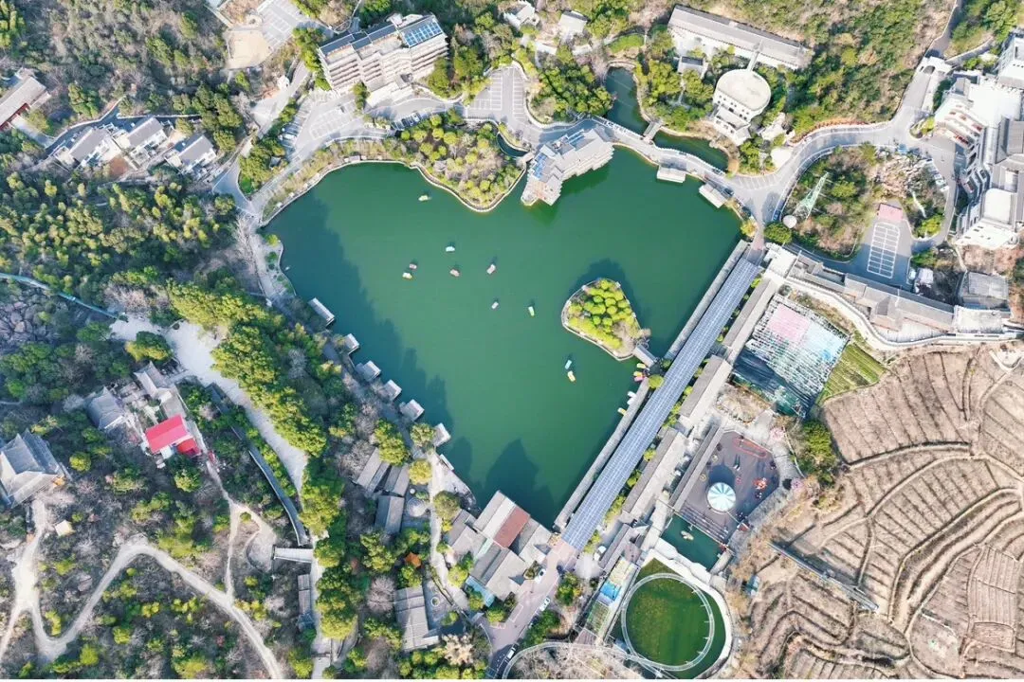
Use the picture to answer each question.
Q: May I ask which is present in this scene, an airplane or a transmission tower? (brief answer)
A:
transmission tower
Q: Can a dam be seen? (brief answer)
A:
Yes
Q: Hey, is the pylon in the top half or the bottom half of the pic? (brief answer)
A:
top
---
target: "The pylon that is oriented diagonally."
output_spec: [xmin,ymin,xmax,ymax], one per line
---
[790,171,835,225]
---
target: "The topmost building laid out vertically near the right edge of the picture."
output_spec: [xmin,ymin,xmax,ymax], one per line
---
[930,42,1024,252]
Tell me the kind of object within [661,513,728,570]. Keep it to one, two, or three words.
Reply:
swimming pool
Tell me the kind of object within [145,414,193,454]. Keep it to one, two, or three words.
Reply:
house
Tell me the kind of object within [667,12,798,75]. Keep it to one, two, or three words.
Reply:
building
